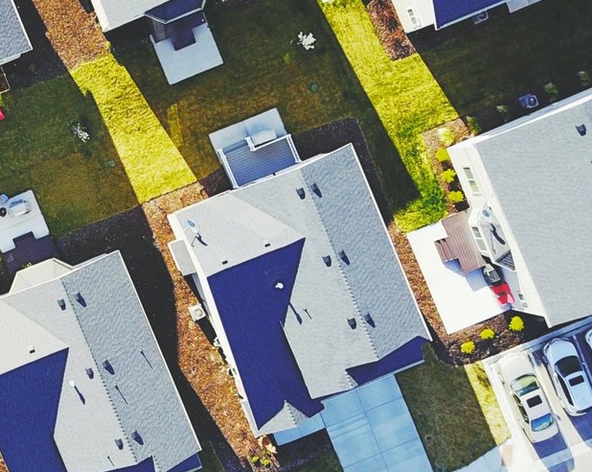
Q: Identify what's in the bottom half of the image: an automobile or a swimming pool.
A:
automobile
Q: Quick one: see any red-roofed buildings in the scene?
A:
No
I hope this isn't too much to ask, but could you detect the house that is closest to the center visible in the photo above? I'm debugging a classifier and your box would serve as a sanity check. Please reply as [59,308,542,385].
[164,140,433,432]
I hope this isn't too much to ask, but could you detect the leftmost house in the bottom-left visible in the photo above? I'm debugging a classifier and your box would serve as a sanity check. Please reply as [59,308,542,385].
[0,248,203,472]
